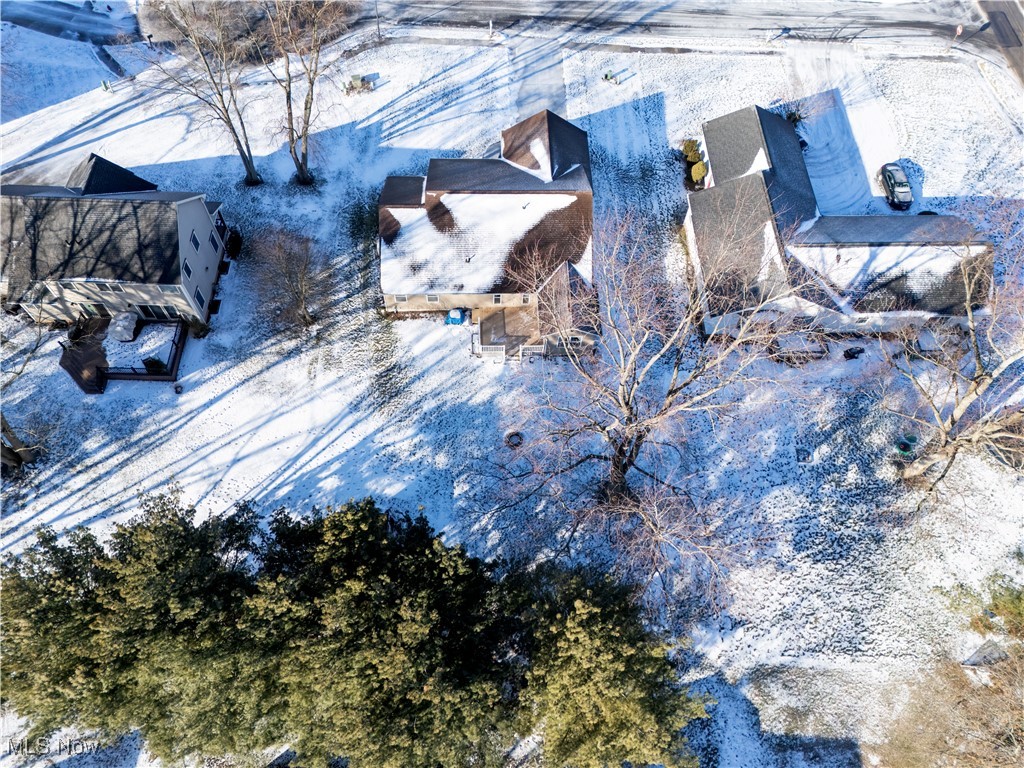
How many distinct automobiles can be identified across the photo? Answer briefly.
one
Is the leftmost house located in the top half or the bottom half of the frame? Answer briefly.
top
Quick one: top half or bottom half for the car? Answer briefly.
top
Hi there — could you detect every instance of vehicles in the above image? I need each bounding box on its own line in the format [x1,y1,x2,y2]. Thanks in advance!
[877,166,914,210]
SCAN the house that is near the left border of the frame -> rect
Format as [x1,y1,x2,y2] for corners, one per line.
[0,157,232,324]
